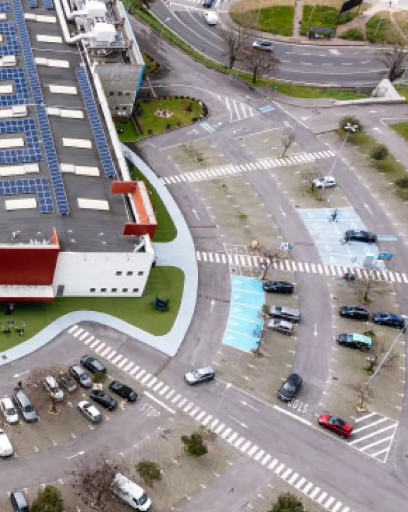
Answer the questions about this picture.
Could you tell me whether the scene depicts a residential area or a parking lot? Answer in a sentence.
What you see here is a parking lot.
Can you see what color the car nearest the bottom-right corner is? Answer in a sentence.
From above, the car nearest the bottom-right corner appears red.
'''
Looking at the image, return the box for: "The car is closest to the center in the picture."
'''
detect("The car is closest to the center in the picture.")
[262,280,295,296]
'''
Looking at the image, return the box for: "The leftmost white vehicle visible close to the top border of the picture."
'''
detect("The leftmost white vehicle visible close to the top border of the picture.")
[202,10,221,27]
